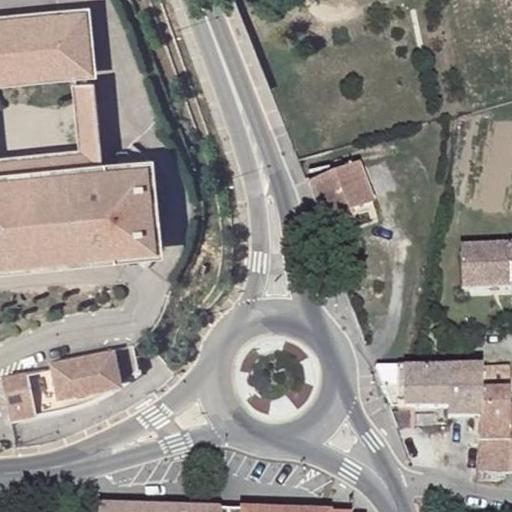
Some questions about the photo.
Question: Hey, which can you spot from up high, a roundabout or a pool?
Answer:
roundabout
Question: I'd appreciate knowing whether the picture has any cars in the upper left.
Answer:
No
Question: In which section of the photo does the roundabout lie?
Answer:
bottom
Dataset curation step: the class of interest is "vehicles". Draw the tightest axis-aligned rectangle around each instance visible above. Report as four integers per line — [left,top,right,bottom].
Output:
[250,460,266,480]
[144,486,167,496]
[488,500,508,512]
[452,422,462,442]
[372,226,394,240]
[48,346,70,358]
[19,352,47,368]
[468,448,478,468]
[274,464,292,485]
[404,436,418,458]
[464,496,488,509]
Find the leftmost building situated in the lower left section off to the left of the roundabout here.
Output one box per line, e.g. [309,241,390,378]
[2,369,49,418]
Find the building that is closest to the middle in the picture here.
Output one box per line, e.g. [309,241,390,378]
[310,160,375,211]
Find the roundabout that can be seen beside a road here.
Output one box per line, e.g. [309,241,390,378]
[204,306,352,454]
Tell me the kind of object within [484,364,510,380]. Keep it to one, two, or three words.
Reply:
shed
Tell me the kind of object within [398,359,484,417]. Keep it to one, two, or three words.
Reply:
building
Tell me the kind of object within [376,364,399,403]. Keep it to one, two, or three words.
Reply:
building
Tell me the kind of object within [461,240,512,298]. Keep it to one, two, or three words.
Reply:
house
